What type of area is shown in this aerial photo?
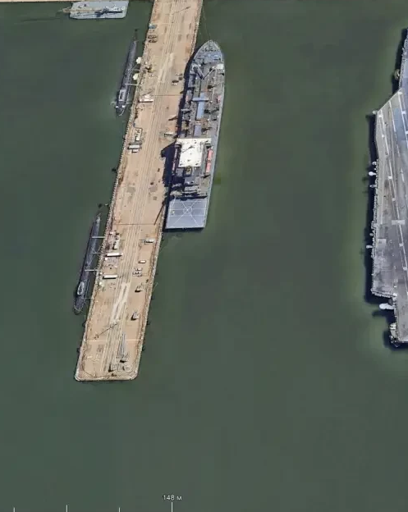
port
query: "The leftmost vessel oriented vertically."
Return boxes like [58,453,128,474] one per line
[74,206,101,312]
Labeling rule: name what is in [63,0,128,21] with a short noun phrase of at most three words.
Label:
ship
